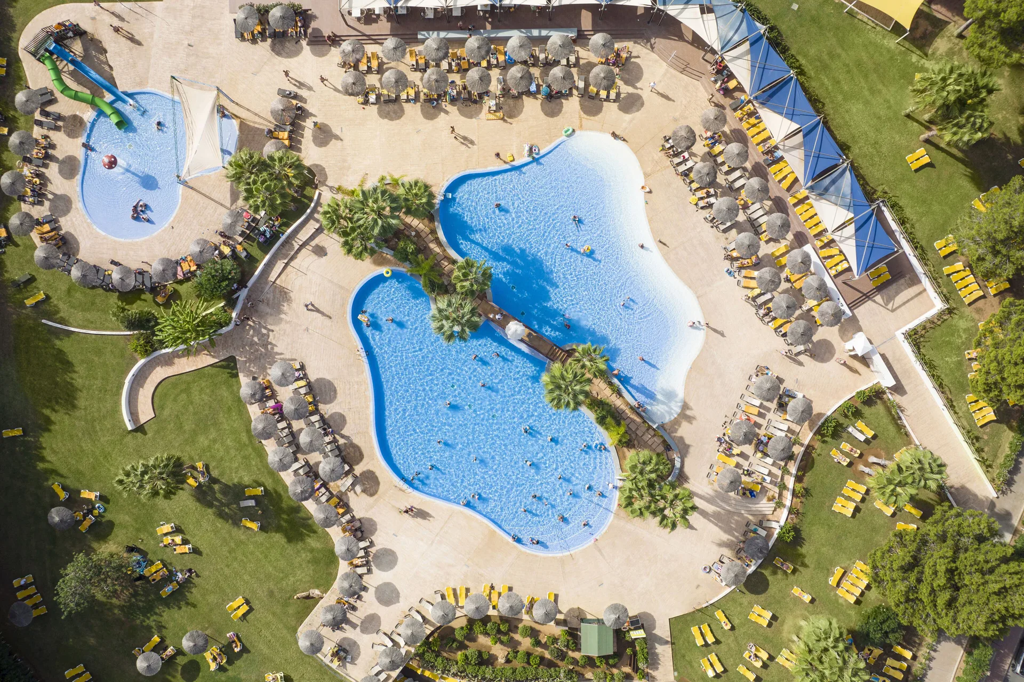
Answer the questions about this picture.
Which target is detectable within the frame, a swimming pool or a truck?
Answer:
swimming pool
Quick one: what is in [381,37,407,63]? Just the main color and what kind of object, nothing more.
gray umbrella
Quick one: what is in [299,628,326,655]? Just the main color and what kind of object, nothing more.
gray umbrella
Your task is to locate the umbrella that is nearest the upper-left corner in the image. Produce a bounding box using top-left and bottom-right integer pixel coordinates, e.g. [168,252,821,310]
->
[17,89,46,116]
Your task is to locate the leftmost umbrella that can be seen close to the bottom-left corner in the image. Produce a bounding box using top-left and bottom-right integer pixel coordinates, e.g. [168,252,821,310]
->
[9,599,38,626]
